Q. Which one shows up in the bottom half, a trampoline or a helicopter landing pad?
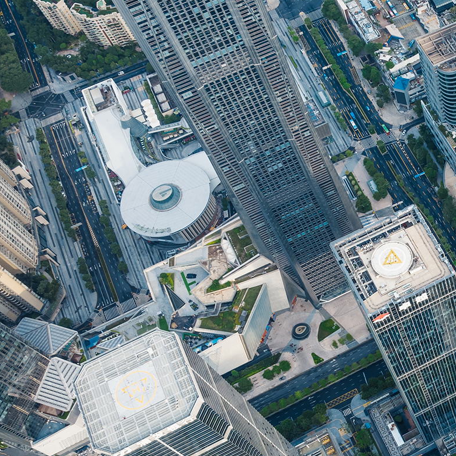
helicopter landing pad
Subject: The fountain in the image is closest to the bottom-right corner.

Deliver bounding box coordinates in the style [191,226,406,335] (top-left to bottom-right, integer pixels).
[290,320,311,340]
